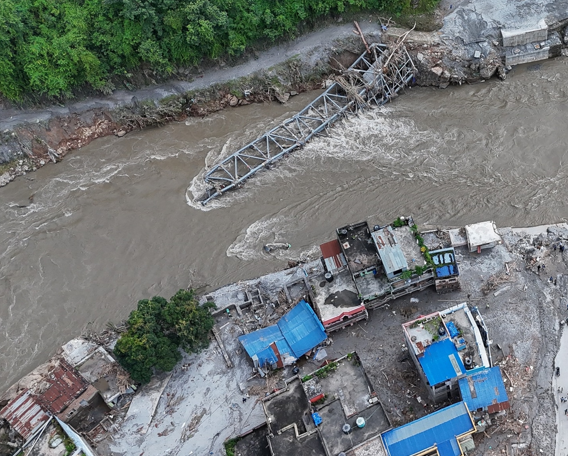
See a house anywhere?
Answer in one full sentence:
Yes, there's a house down there.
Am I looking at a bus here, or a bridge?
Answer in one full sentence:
The image shows a bridge.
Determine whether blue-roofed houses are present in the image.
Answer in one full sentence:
Yes, there's a blue-roofed house down there.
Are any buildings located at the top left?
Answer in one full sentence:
No, I see no building at the top left.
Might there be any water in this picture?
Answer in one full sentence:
Yes, water shows up in the scene.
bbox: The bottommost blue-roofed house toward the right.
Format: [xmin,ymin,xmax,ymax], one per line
[381,401,478,456]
